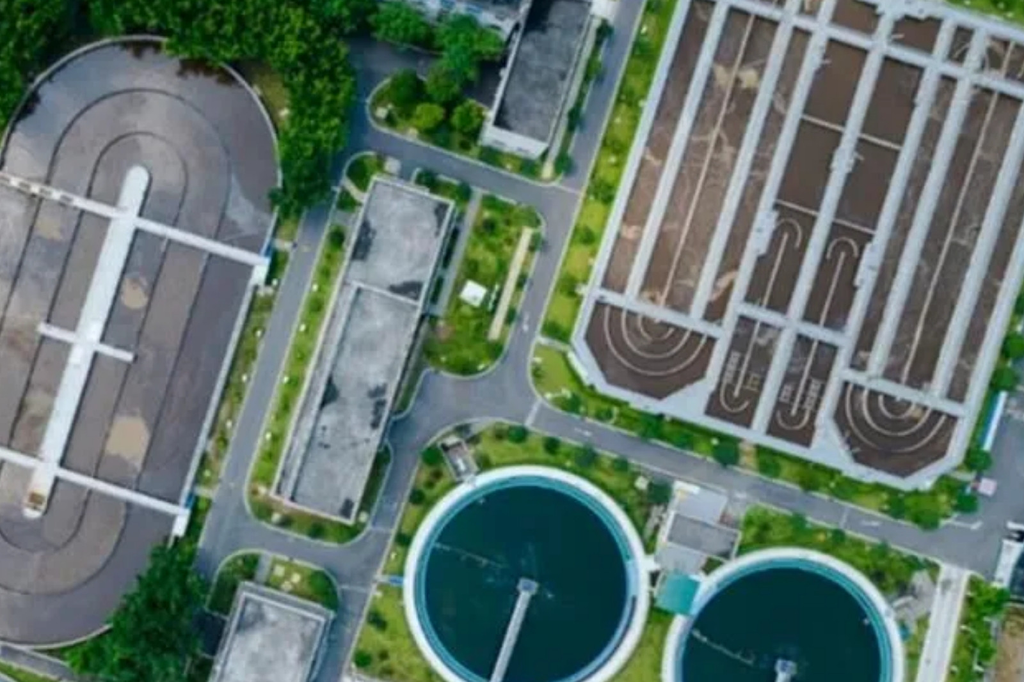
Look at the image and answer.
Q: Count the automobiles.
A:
zero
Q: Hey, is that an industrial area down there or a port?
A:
industrial area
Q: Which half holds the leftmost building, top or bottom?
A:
bottom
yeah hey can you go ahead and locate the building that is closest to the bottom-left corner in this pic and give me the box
[210,582,335,682]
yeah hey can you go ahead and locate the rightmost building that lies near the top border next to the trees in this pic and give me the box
[485,0,599,165]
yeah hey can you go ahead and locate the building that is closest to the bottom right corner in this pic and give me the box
[991,522,1024,602]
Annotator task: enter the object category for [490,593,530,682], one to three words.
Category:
bridge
